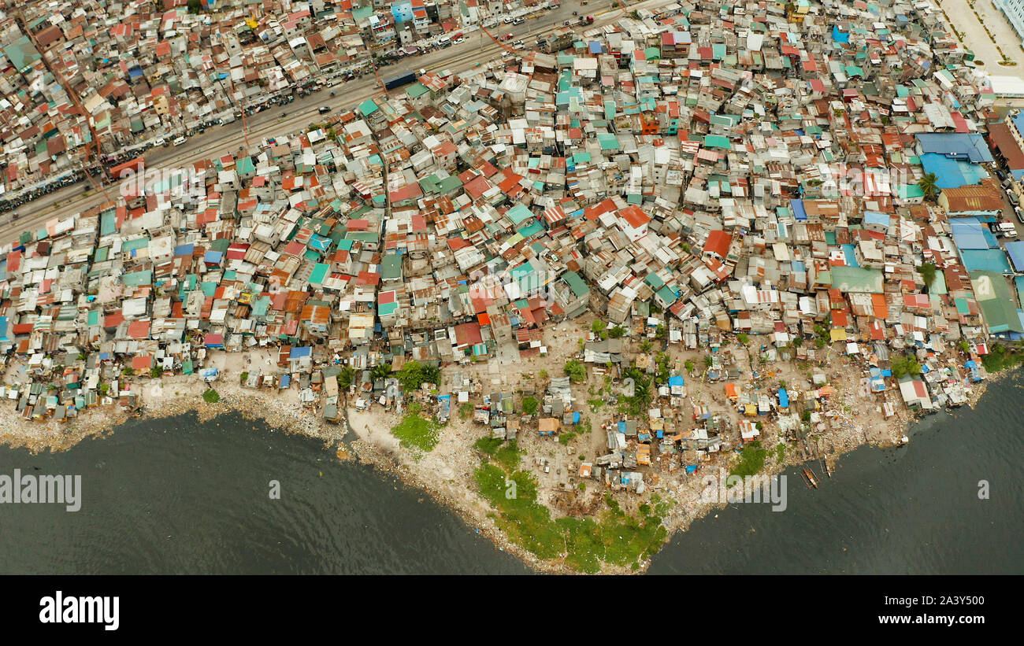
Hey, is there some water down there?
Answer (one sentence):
Yes, the picture does contain water.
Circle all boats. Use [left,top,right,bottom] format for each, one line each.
[818,454,837,476]
[799,468,821,488]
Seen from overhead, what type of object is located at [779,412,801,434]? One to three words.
shed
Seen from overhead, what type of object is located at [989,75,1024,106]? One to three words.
building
